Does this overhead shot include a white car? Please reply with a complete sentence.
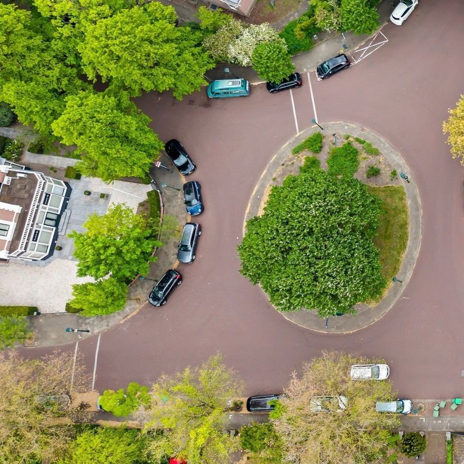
Yes, the photo shows a white car.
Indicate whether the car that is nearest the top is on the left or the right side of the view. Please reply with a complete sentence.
The car that is nearest the top appears in the right half of the scene.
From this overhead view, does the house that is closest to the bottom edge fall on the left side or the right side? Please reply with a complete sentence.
You can find the house that is closest to the bottom edge on the left side of the picture.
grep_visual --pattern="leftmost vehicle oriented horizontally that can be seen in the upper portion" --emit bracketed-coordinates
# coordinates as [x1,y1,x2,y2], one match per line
[207,77,251,99]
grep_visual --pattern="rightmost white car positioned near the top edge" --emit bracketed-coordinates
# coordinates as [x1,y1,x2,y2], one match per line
[389,0,419,28]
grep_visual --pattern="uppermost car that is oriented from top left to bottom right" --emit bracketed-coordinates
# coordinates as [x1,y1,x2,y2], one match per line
[162,135,198,177]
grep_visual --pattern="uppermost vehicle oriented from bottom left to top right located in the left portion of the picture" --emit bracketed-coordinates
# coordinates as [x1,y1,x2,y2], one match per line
[146,267,184,309]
